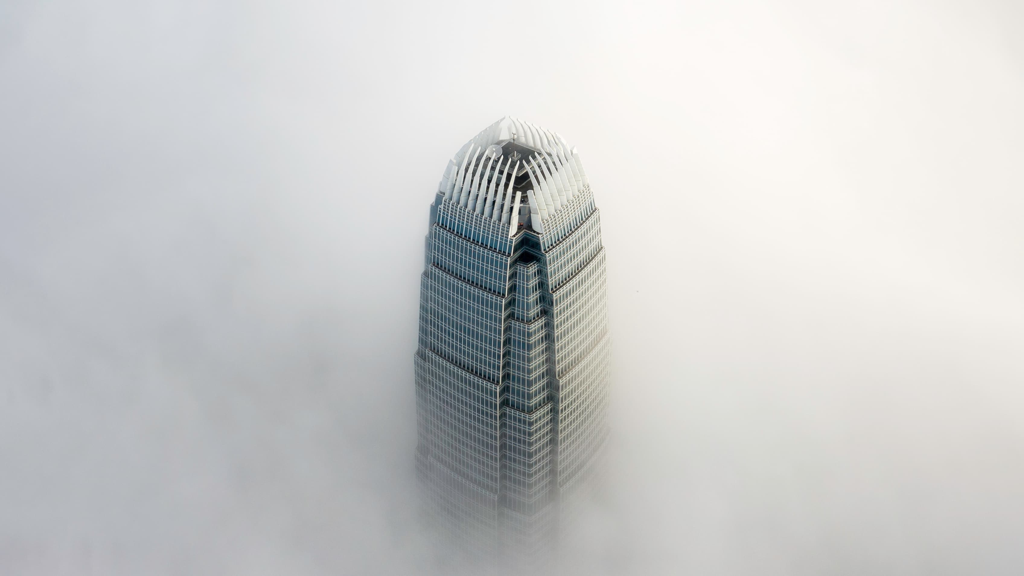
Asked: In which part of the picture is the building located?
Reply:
center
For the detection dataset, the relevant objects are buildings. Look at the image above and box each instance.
[411,115,616,576]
